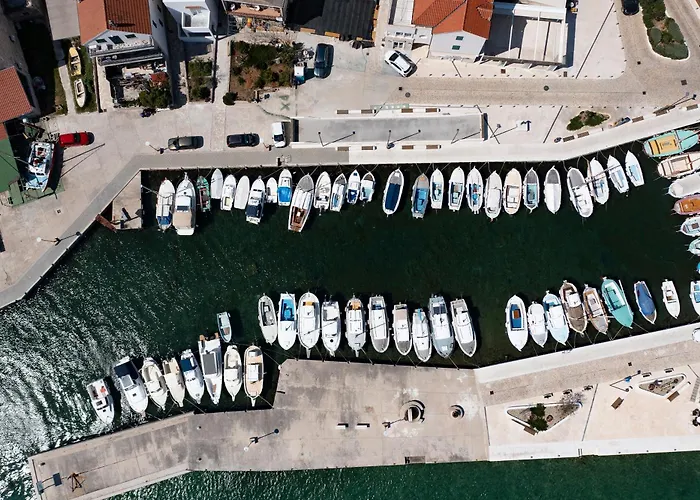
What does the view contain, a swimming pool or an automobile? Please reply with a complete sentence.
I can see an automobile in this picture.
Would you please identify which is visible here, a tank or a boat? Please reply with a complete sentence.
Looking from above, you can make out a boat.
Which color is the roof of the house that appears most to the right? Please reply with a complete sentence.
From above, the roof of the house that appears most to the right looks red.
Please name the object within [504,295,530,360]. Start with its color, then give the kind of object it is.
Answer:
white boat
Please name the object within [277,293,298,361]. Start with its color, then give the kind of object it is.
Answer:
white boat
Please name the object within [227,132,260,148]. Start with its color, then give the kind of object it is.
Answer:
black car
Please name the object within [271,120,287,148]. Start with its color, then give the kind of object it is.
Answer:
white vehicle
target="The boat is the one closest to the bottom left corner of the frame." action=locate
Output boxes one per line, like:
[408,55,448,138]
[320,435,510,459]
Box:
[88,380,116,432]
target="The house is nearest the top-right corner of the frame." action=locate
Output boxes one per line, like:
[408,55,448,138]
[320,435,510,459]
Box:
[409,0,493,63]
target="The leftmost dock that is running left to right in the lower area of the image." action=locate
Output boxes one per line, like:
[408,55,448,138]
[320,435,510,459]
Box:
[14,358,489,500]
